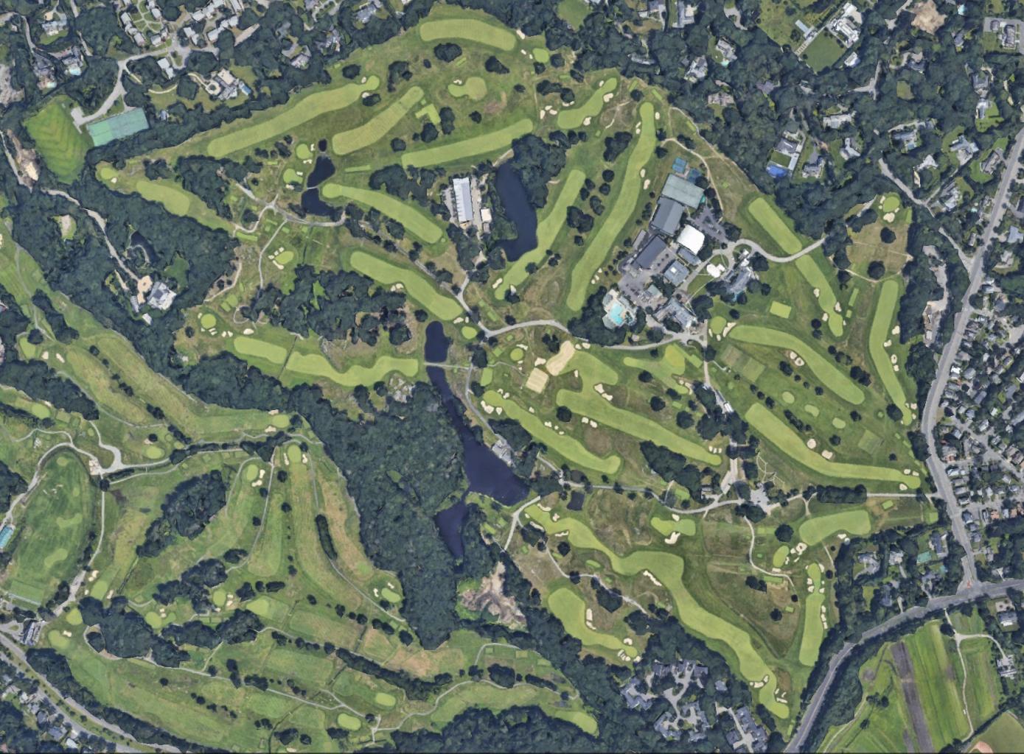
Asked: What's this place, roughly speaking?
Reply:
golf course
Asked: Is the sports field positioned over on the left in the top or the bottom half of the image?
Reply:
top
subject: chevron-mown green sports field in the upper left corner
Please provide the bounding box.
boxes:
[24,95,93,182]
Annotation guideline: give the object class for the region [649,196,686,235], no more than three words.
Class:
building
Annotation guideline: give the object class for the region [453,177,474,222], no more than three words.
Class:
shed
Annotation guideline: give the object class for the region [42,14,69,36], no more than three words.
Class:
house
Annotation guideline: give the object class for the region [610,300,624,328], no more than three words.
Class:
swimming pool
